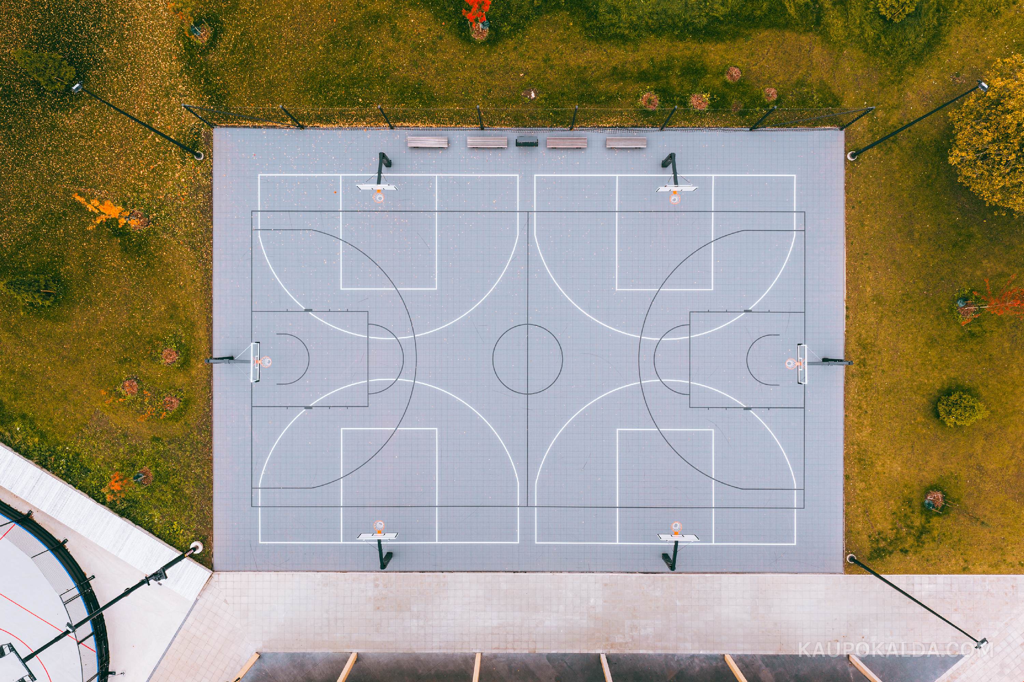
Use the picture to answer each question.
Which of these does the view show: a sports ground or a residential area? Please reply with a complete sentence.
This image shows a sports ground.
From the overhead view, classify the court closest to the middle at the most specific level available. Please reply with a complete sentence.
Looking closely, the court closest to the middle is a basketball court.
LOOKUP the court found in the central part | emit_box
[211,126,846,574]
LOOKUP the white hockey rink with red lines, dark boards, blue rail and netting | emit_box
[0,501,116,682]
